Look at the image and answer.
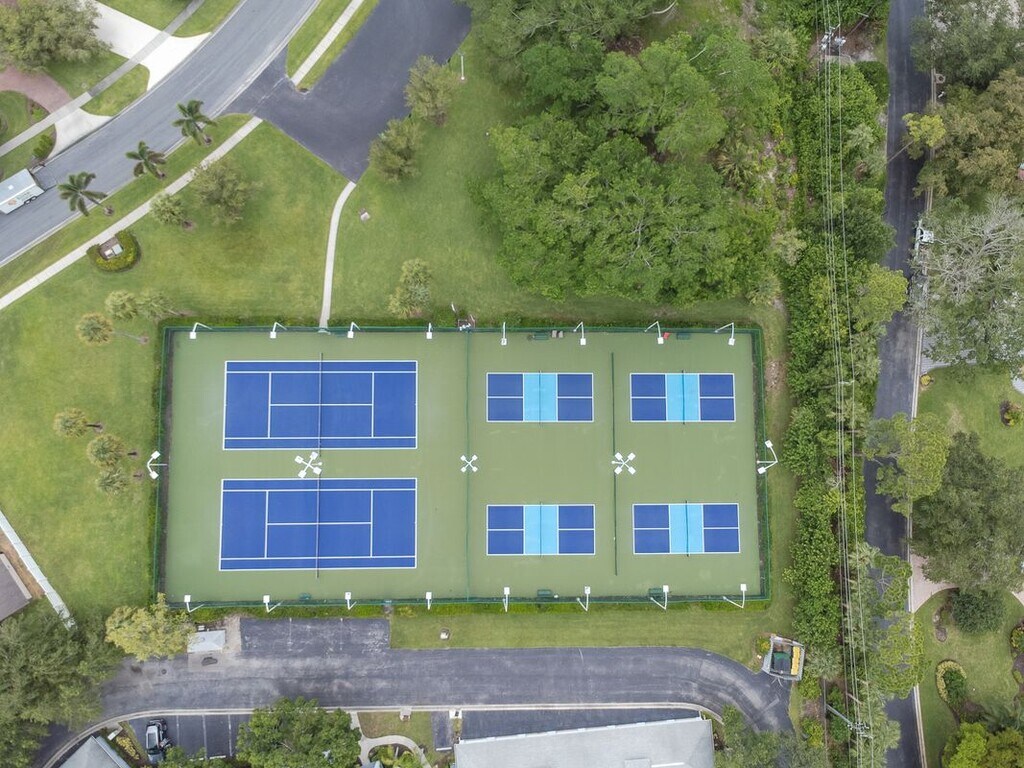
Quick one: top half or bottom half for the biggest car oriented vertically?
bottom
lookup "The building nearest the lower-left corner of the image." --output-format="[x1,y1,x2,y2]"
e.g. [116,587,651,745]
[58,729,145,768]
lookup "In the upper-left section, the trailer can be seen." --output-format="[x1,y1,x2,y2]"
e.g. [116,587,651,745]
[0,169,49,213]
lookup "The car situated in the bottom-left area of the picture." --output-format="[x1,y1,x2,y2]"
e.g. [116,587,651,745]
[146,717,168,760]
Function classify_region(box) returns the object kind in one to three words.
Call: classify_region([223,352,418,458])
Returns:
tennis court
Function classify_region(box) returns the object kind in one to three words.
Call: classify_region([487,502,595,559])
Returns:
sports court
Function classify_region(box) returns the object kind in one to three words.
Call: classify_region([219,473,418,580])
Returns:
tennis court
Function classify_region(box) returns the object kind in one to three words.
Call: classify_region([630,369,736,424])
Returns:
sports court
